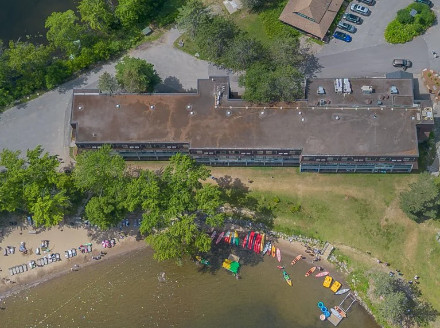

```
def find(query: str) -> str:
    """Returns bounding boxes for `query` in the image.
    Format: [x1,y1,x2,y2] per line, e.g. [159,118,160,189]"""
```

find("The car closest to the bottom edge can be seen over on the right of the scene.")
[392,58,412,71]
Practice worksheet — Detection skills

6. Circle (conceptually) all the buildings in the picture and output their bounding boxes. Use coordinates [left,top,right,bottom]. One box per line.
[69,71,436,180]
[279,0,344,40]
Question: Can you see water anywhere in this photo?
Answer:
Yes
